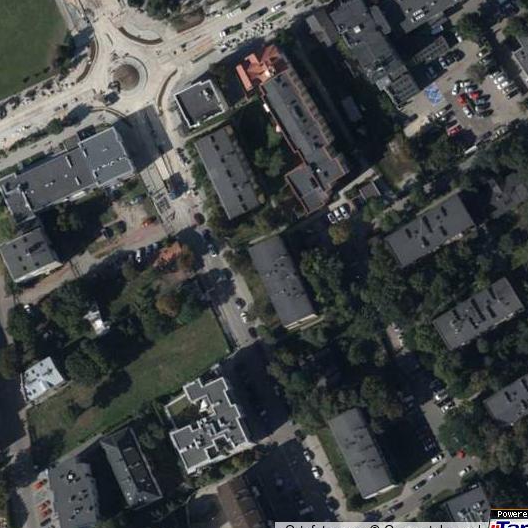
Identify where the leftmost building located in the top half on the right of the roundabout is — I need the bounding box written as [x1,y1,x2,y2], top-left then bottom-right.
[176,81,226,129]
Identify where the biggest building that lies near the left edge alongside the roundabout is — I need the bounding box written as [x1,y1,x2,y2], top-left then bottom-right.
[15,127,135,220]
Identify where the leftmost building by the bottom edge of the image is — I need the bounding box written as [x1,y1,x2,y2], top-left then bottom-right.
[48,457,100,528]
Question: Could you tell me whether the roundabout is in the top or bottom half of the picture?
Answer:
top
